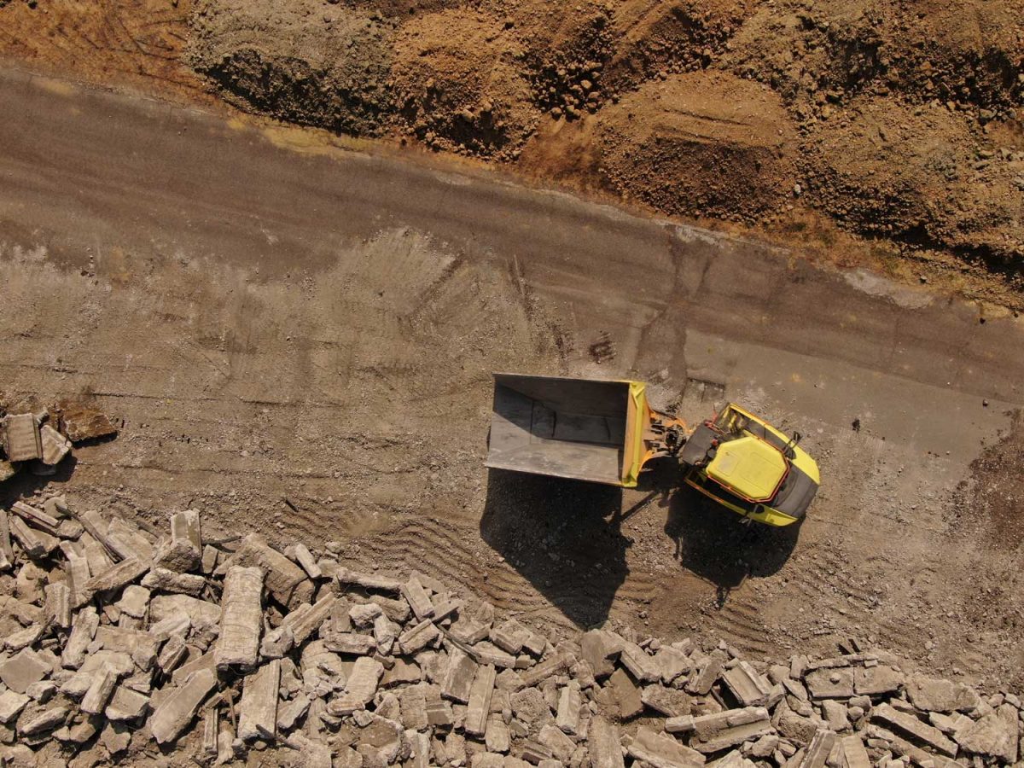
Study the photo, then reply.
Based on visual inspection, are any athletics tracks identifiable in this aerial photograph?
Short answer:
No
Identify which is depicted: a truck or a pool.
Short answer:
truck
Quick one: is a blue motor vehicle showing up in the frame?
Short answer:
No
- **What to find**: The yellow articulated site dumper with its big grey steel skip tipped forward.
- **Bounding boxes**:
[485,374,818,528]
